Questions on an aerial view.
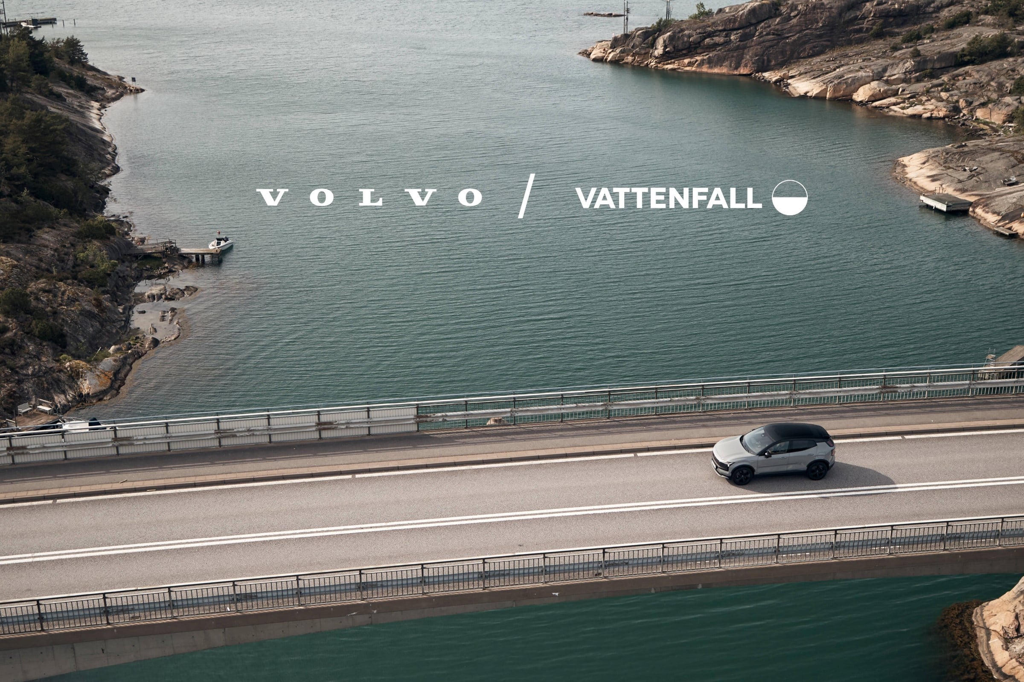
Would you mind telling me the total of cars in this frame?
1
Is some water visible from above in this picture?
Yes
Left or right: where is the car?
right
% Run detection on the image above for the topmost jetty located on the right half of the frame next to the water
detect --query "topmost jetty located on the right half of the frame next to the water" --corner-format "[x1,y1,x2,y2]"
[920,188,967,210]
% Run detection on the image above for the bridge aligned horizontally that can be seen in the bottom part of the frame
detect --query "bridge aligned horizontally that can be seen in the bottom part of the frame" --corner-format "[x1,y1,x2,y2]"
[0,388,1024,681]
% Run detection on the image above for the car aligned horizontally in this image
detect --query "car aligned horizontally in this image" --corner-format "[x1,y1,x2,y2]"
[711,424,836,484]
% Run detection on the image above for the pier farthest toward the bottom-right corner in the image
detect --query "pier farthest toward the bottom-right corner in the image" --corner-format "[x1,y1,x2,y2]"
[977,342,1024,380]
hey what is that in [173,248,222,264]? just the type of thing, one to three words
pier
